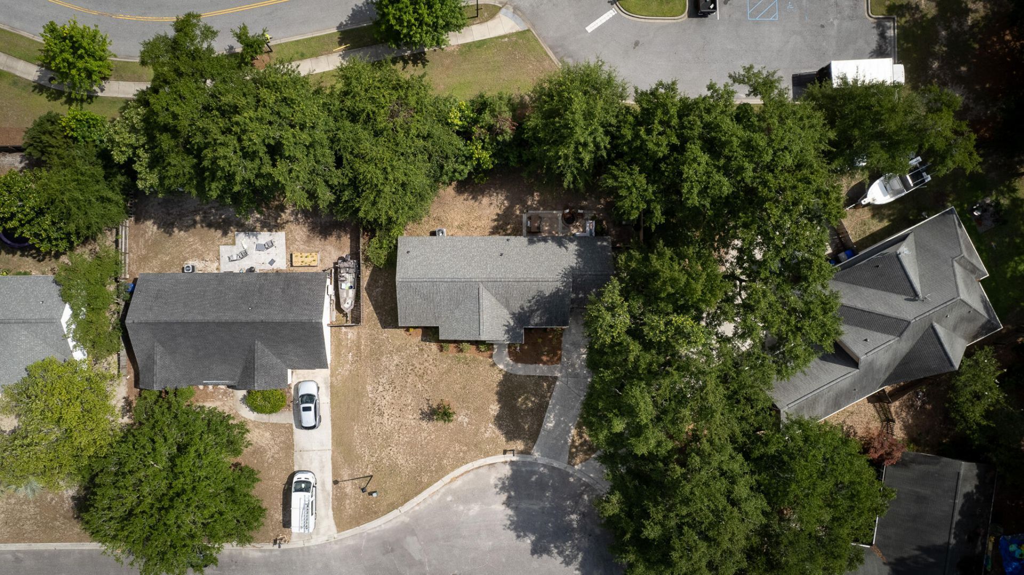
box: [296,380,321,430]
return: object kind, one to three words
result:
car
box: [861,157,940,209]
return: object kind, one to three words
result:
boat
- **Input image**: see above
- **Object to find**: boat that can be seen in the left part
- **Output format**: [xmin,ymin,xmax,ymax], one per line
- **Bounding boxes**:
[338,252,355,313]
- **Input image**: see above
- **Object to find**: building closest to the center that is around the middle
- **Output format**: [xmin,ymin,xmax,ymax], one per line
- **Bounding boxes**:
[395,235,615,343]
